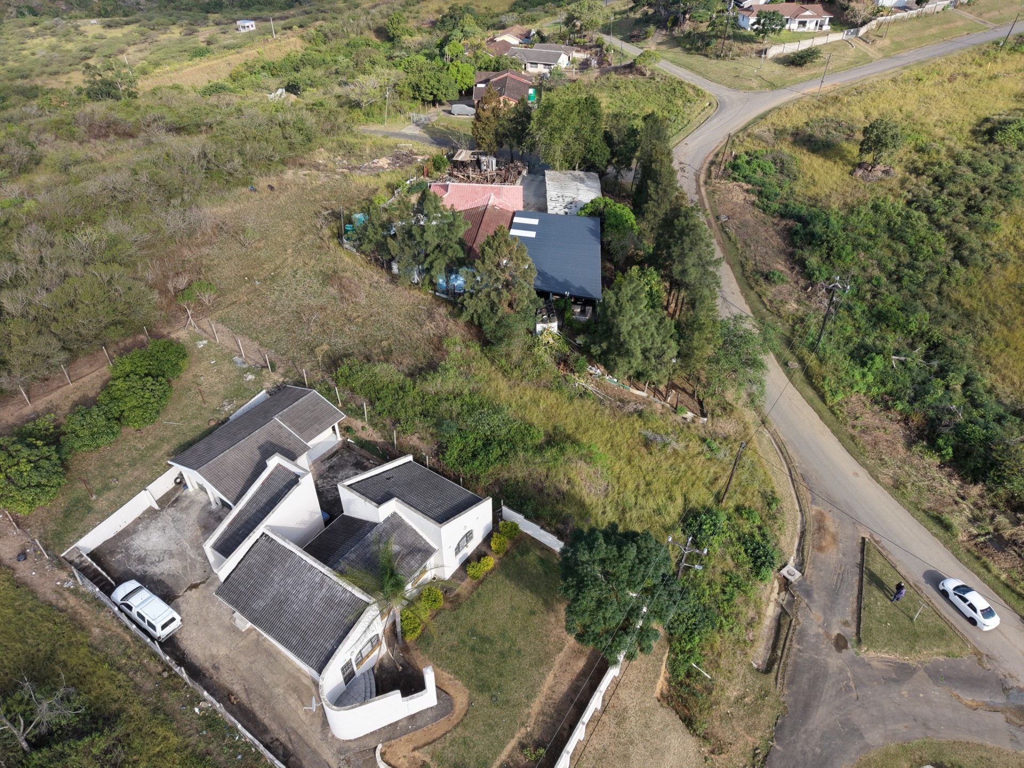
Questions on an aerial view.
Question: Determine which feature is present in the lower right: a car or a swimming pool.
car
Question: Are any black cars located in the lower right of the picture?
No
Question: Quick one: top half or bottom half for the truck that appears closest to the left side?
bottom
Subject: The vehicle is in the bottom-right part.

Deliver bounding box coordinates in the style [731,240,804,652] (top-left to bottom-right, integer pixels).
[937,576,1003,631]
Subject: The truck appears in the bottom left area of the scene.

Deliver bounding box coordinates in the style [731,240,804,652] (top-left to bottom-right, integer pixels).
[108,583,181,641]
